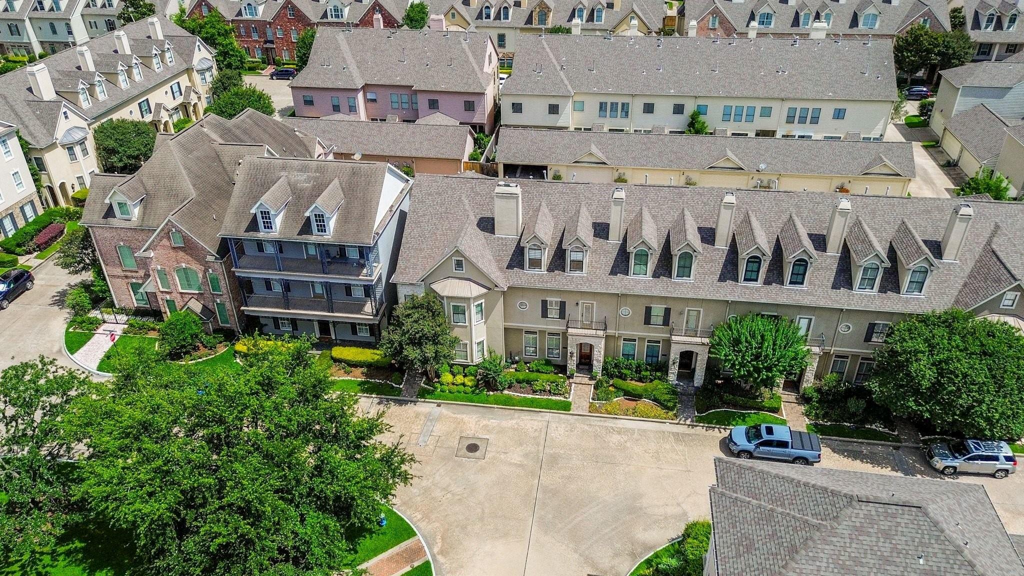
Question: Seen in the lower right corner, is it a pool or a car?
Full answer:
There is a car in the lower right corner.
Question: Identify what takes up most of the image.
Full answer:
Most of the picture is covered by buildings.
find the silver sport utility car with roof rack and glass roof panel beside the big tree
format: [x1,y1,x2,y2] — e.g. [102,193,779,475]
[921,434,1024,479]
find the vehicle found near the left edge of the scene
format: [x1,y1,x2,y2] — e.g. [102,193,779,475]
[0,270,33,309]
